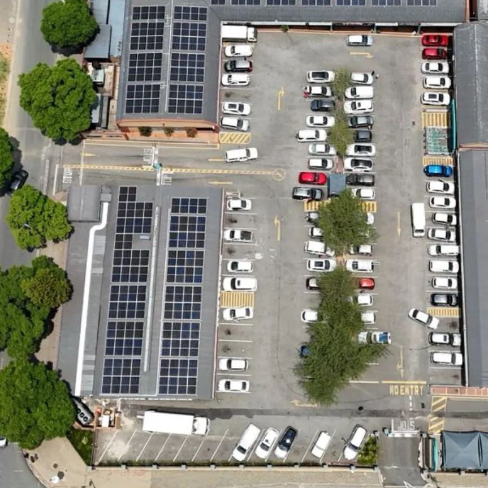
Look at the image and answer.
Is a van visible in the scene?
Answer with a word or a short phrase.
Yes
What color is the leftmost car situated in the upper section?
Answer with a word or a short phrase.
black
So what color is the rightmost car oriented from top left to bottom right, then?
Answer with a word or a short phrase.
white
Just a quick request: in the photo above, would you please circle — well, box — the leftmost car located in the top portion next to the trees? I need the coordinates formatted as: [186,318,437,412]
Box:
[4,167,27,195]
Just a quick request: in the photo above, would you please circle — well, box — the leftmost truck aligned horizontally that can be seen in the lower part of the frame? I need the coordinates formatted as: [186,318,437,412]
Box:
[138,415,211,437]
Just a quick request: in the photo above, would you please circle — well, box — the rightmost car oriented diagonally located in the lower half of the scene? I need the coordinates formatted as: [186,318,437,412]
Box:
[407,306,440,331]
